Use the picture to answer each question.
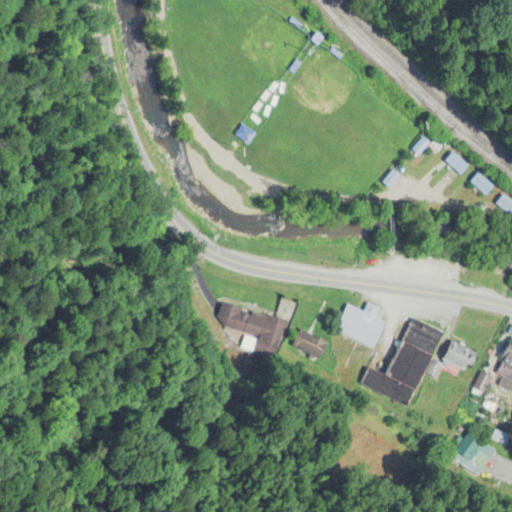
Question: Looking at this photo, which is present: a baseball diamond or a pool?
baseball diamond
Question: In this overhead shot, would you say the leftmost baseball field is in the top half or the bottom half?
top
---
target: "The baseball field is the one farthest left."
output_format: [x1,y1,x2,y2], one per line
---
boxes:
[170,0,306,142]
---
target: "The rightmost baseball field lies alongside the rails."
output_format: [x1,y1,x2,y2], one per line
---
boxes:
[252,56,422,194]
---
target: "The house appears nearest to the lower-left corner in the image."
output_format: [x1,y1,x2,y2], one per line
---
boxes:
[220,304,288,356]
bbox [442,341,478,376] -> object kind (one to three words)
house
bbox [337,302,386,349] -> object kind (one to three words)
building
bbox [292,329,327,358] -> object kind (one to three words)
house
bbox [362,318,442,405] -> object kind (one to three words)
building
